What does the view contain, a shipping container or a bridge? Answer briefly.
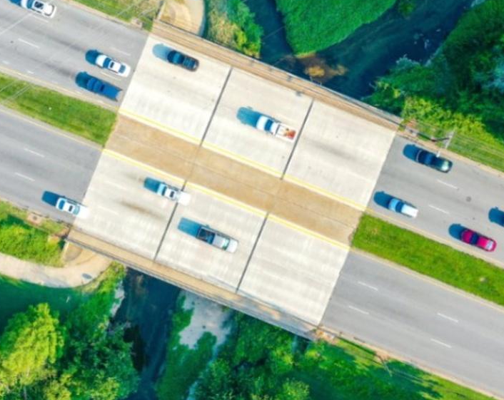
bridge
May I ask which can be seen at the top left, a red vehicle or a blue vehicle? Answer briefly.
blue vehicle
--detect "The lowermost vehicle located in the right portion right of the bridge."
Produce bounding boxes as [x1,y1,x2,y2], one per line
[458,227,496,252]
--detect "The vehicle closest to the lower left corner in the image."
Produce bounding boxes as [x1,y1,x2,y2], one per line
[52,195,87,217]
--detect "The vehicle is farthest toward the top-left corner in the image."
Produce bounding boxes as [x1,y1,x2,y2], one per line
[20,0,57,18]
